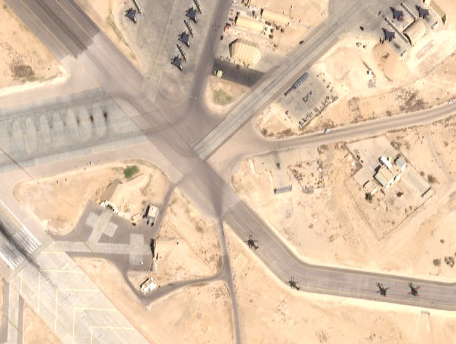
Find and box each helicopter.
[408,283,421,297]
[287,278,301,290]
[244,235,257,249]
[377,282,389,296]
